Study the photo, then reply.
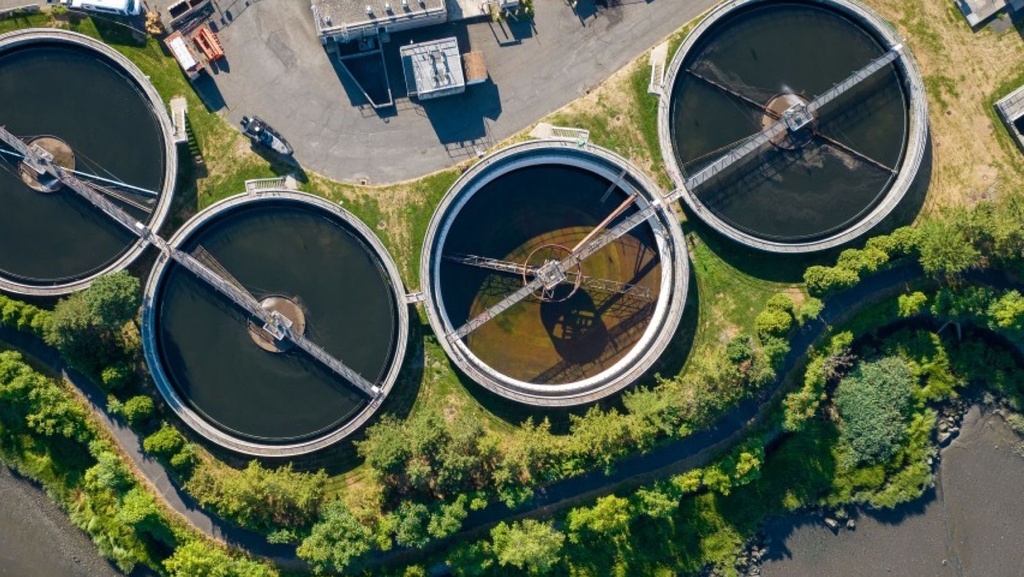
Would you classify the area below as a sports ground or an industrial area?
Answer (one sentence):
This image shows an industrial area.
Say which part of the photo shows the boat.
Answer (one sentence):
You can find the boat in the top left area of the picture.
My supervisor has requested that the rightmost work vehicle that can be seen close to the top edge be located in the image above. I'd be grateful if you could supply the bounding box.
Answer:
[140,5,166,36]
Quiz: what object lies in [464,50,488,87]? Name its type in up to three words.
shed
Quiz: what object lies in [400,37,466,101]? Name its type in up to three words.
building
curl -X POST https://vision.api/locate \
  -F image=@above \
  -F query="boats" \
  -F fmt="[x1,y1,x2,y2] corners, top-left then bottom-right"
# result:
[236,112,295,157]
